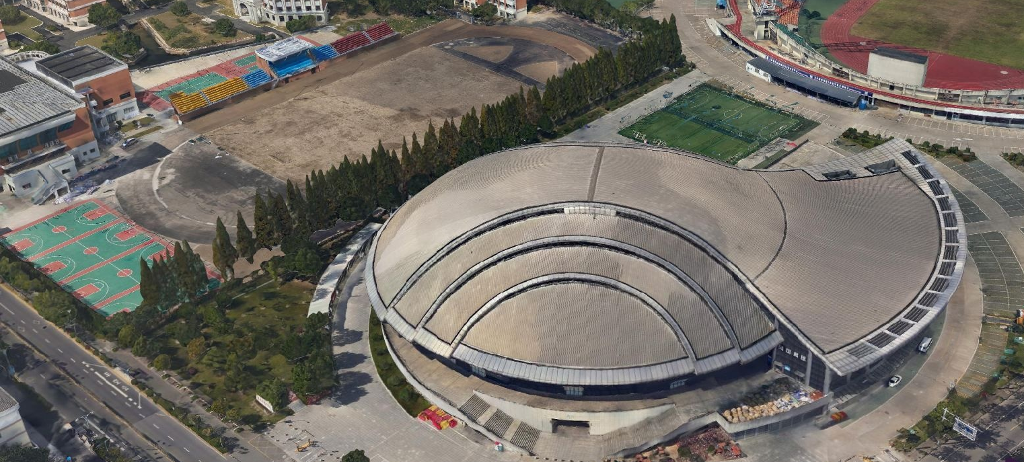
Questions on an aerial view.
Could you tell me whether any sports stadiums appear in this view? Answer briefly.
Yes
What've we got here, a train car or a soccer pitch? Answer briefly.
soccer pitch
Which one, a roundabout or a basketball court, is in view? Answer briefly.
basketball court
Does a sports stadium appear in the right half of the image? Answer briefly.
Yes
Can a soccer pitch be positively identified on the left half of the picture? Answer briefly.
No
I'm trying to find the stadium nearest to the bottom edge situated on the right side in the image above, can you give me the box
[365,139,968,400]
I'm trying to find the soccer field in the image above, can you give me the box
[624,85,801,161]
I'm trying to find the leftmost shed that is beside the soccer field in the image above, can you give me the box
[747,56,863,115]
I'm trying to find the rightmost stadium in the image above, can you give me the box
[706,0,1024,128]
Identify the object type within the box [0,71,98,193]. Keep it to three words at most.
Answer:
building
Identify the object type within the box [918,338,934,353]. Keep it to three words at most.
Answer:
vehicle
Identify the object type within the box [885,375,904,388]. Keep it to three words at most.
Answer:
vehicle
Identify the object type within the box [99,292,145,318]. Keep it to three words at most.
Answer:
basketball court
